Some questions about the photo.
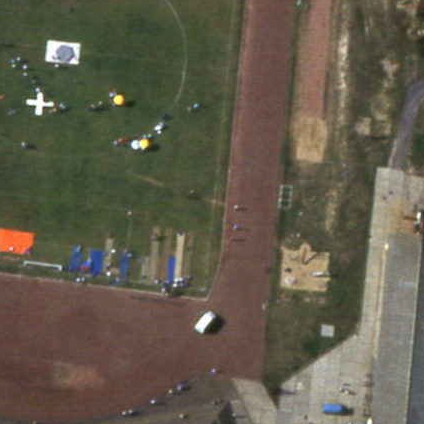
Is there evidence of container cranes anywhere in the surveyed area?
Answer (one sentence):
No, the frame has no container crane in it.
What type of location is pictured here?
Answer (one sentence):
This image shows a sports ground.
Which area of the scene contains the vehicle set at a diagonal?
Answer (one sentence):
The vehicle set at a diagonal appears toward the bottom of the photo.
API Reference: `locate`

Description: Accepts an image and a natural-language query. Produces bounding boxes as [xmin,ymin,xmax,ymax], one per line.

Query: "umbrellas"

[112,96,125,106]
[130,141,141,151]
[140,139,151,150]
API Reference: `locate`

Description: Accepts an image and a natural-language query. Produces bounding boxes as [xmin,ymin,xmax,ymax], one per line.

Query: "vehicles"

[321,403,344,417]
[194,314,216,338]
